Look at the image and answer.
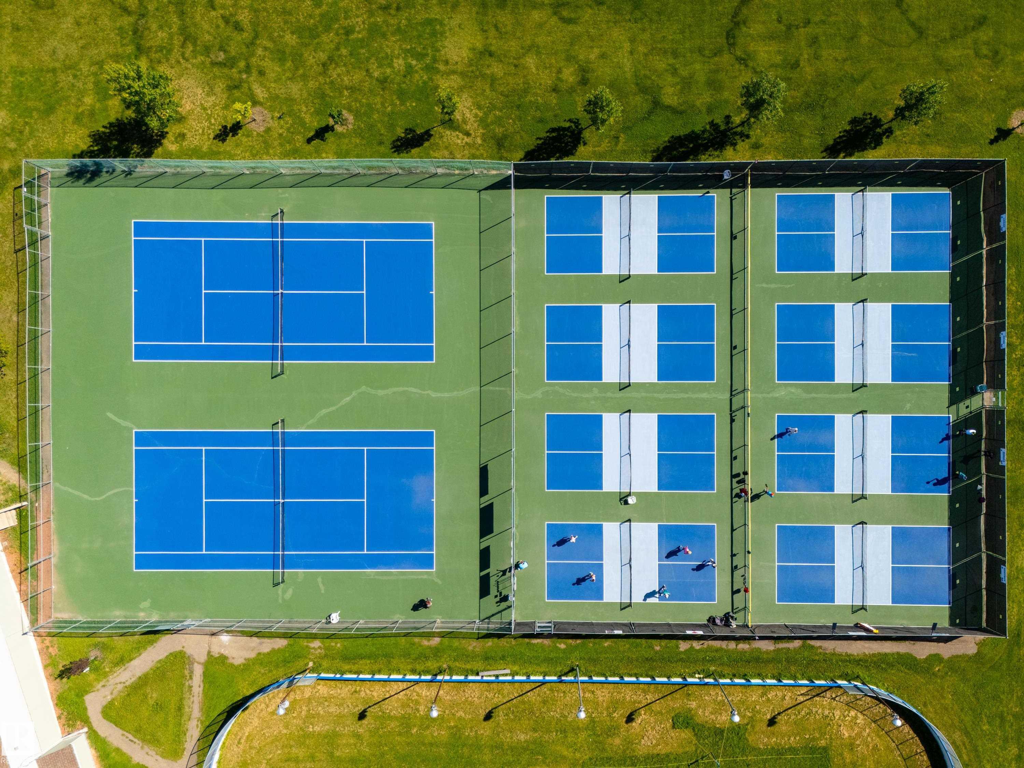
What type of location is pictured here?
sports ground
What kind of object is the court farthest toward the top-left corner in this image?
tennis court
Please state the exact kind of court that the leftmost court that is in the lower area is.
tennis court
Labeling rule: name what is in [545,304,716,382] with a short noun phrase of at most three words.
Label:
sports court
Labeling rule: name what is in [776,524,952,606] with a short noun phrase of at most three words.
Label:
sports court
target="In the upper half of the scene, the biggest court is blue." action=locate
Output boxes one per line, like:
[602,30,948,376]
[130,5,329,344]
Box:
[132,220,435,362]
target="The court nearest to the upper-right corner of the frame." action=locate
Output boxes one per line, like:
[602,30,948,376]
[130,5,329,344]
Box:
[776,192,952,273]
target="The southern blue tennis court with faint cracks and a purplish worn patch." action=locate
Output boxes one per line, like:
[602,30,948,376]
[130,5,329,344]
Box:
[133,429,435,571]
